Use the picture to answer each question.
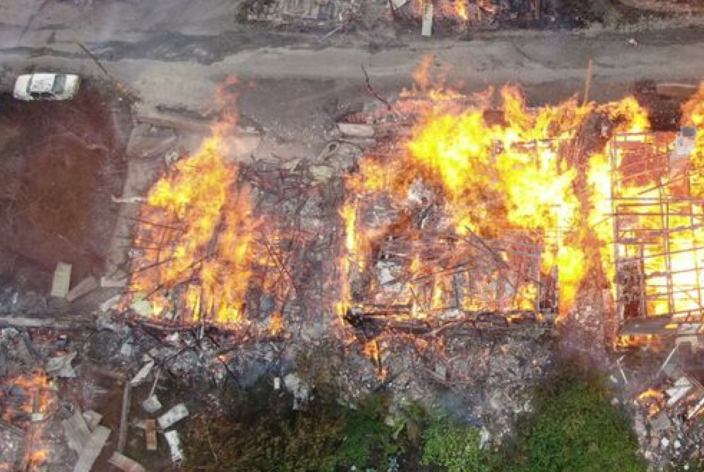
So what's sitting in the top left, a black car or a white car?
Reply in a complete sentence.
The feature located in the top left is a white car.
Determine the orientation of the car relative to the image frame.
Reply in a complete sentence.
What the image shows is the car lying from side to side.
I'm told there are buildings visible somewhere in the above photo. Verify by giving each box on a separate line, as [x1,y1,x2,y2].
[336,128,588,333]
[606,124,704,353]
[442,0,532,41]
[120,170,344,343]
